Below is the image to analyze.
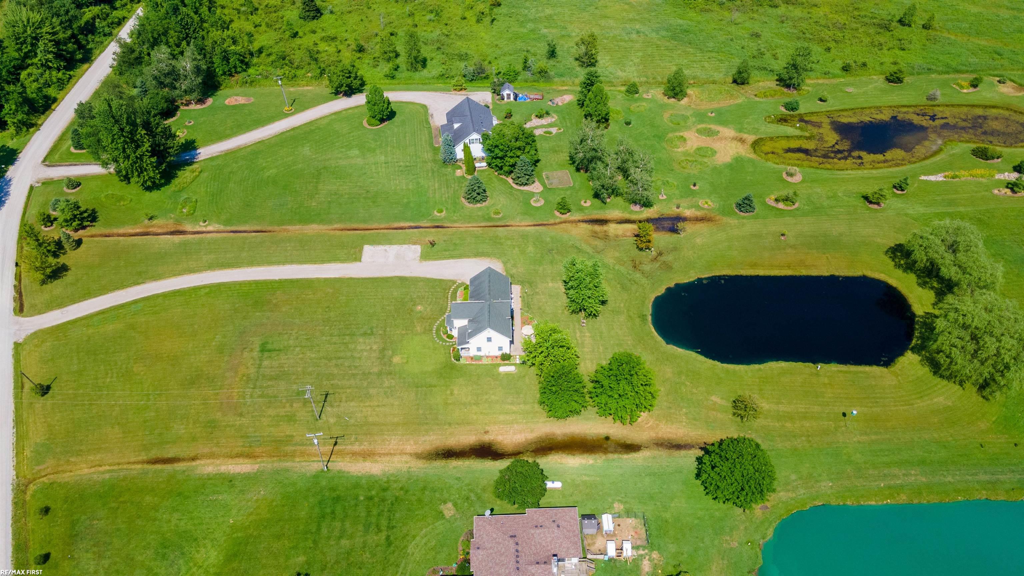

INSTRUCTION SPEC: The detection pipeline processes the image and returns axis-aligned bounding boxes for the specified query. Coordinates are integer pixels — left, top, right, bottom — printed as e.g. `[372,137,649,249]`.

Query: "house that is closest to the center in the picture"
[446,267,512,357]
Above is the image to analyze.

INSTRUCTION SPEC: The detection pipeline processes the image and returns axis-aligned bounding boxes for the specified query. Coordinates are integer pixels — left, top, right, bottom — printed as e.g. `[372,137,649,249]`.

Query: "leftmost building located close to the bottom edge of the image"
[468,508,584,576]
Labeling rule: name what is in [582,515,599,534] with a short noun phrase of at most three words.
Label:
shed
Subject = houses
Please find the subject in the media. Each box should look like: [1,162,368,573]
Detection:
[446,267,512,357]
[468,508,584,576]
[439,96,498,159]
